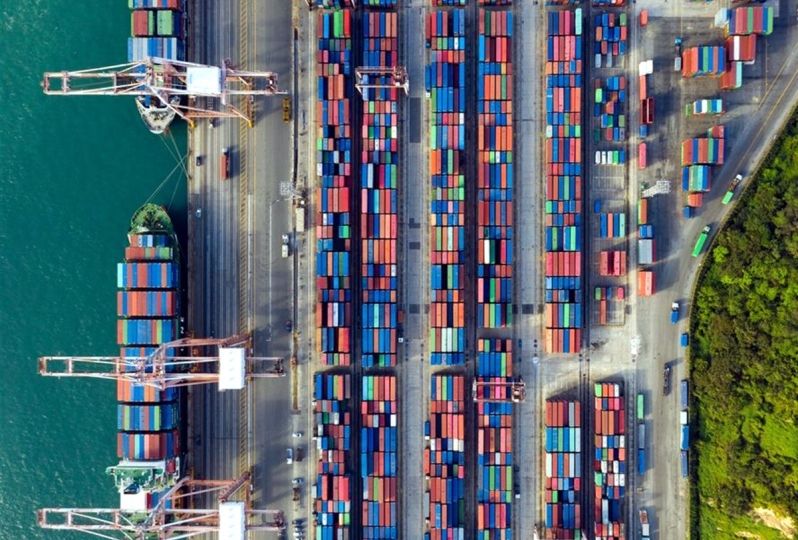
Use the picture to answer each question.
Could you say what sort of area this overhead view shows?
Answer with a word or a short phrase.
port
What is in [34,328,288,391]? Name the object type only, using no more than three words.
container crane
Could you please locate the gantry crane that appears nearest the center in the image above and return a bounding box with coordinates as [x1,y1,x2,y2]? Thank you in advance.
[465,372,525,403]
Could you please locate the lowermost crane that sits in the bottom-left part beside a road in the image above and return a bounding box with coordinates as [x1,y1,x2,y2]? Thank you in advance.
[32,462,288,540]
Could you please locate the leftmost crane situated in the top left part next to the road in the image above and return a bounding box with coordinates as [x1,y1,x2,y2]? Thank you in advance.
[37,56,283,132]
